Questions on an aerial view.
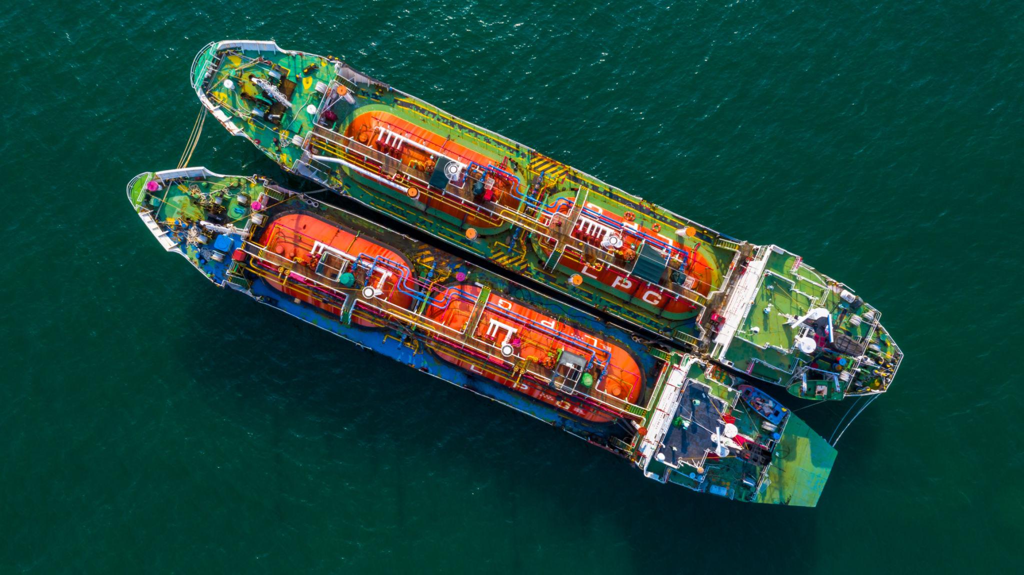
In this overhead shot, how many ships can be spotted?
2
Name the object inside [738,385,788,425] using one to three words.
boat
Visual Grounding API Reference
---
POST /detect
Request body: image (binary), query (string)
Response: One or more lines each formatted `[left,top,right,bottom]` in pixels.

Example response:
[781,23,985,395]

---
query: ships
[190,38,903,398]
[126,165,837,507]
